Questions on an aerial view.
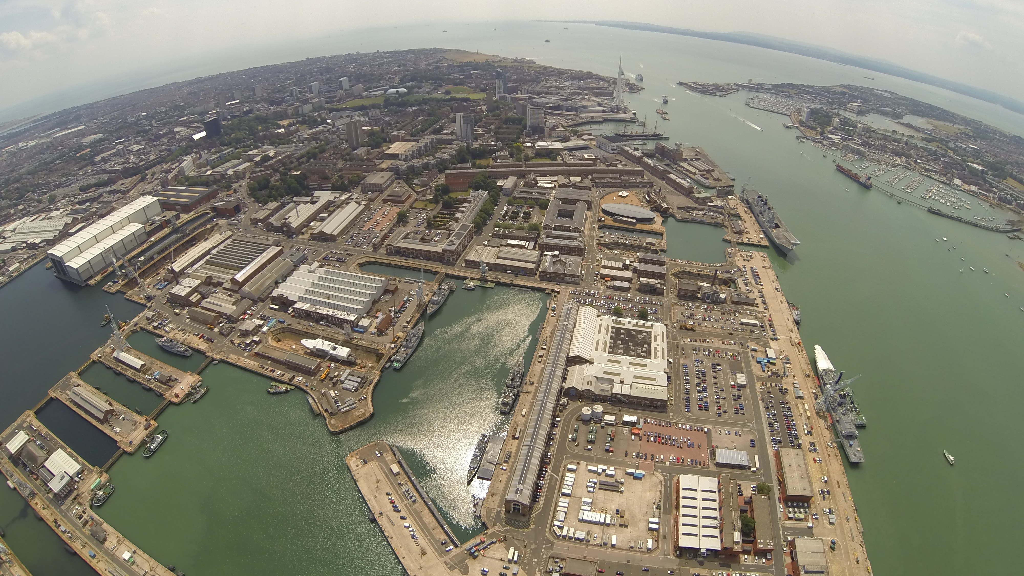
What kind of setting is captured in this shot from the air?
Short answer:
port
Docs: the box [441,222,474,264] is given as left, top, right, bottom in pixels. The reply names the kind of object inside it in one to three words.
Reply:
building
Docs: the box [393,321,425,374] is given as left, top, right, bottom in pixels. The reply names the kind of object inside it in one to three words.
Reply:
ship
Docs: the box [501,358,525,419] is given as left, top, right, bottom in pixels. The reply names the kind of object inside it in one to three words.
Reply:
ship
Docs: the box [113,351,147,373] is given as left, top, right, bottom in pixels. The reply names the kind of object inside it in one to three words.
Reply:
shed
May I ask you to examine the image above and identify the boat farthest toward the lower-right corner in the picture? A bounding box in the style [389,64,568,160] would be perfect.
[943,449,955,465]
